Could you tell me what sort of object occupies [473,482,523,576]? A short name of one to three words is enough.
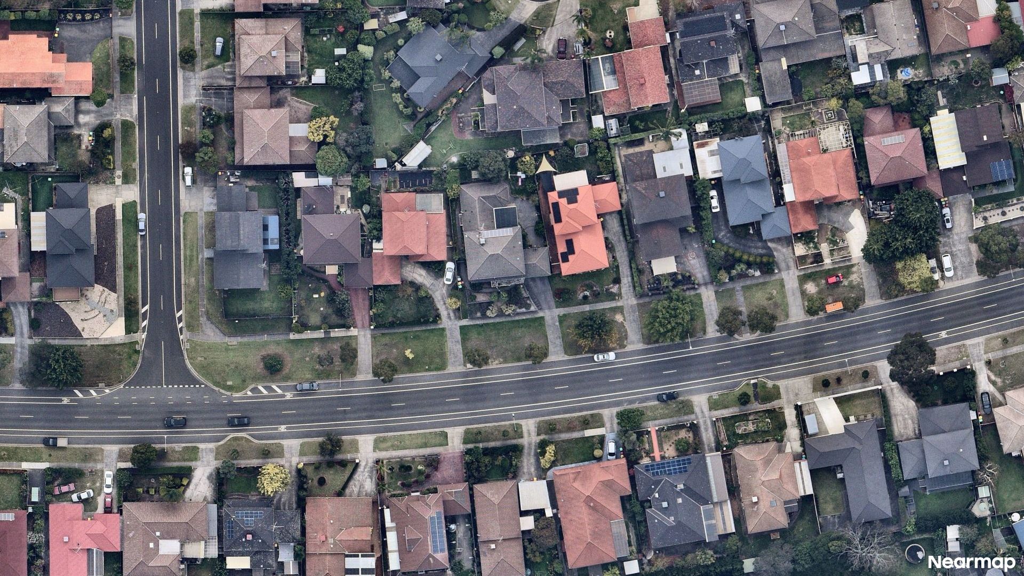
house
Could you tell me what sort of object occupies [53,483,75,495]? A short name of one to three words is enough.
vehicle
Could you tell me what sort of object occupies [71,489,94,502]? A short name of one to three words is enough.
vehicle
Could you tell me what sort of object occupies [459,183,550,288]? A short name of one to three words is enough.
house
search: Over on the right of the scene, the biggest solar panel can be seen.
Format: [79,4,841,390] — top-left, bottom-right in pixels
[682,16,726,36]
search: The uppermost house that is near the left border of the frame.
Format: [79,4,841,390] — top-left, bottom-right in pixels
[0,34,91,96]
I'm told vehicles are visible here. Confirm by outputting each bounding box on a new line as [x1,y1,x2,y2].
[103,471,113,493]
[928,258,939,280]
[557,37,567,60]
[826,274,843,284]
[981,392,992,413]
[137,213,147,235]
[183,167,192,187]
[593,351,616,362]
[71,489,94,502]
[228,417,250,426]
[44,437,68,447]
[214,37,223,56]
[53,483,75,495]
[709,189,720,212]
[942,254,953,277]
[444,262,455,284]
[296,381,318,391]
[656,391,679,402]
[607,441,616,459]
[942,207,952,228]
[103,494,113,514]
[164,417,186,427]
